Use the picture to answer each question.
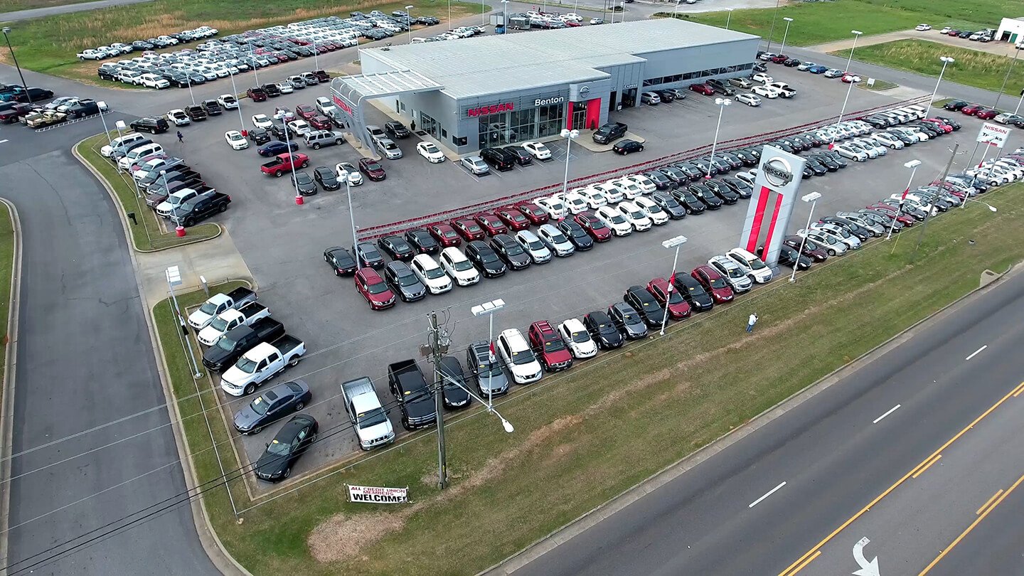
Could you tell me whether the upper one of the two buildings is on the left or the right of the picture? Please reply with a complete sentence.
The upper one of the two buildings is on the right side of the image.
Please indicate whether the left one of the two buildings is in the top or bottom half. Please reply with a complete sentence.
Seen from above, the left one of the two buildings lies in the top half of the view.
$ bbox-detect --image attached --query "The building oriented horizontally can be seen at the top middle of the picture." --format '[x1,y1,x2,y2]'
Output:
[351,16,763,153]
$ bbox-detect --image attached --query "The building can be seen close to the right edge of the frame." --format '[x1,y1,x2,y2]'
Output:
[995,17,1024,49]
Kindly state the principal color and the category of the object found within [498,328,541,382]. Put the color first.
white car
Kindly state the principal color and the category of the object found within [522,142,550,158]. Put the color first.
white car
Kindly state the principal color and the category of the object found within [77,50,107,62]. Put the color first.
white vehicle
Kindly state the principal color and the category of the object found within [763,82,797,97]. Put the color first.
white vehicle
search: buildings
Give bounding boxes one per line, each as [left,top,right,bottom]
[995,17,1024,49]
[351,16,763,153]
